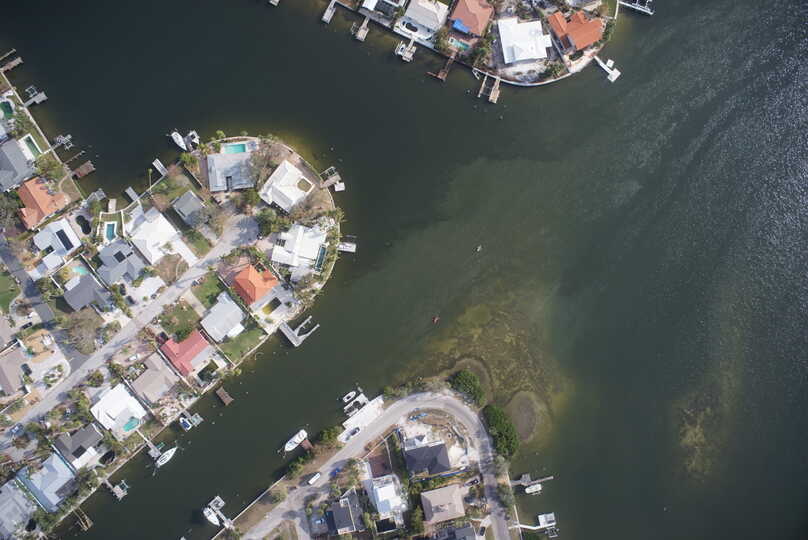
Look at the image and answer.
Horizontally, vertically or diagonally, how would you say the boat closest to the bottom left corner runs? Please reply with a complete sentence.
I'd say the boat closest to the bottom left corner is aligned diagonally in the picture.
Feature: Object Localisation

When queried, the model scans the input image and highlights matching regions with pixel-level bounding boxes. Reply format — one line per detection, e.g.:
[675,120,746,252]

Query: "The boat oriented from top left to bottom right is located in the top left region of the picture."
[172,129,189,149]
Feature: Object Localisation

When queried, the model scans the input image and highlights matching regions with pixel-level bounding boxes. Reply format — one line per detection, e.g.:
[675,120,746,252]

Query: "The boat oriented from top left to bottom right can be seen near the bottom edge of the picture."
[202,506,220,525]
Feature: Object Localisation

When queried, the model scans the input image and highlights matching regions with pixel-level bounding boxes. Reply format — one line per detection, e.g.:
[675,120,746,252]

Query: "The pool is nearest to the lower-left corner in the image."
[97,448,117,467]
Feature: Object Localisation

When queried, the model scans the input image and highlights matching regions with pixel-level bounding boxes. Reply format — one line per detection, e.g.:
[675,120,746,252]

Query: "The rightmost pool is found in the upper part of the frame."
[447,36,471,51]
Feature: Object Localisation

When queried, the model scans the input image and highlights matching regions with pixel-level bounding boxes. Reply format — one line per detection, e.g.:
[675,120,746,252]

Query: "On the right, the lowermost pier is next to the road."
[507,511,559,540]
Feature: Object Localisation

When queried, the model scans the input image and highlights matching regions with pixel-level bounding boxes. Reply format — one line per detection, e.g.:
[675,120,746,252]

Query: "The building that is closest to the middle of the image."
[270,225,328,266]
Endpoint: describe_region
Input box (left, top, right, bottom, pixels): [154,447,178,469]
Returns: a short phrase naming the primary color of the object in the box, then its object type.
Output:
white boat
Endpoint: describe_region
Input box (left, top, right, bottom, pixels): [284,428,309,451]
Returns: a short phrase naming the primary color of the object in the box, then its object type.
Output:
white boat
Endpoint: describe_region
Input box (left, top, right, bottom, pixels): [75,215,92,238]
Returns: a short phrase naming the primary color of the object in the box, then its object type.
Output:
black swimming pool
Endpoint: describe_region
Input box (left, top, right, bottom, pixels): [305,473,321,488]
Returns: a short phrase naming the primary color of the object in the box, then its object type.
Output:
white vehicle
